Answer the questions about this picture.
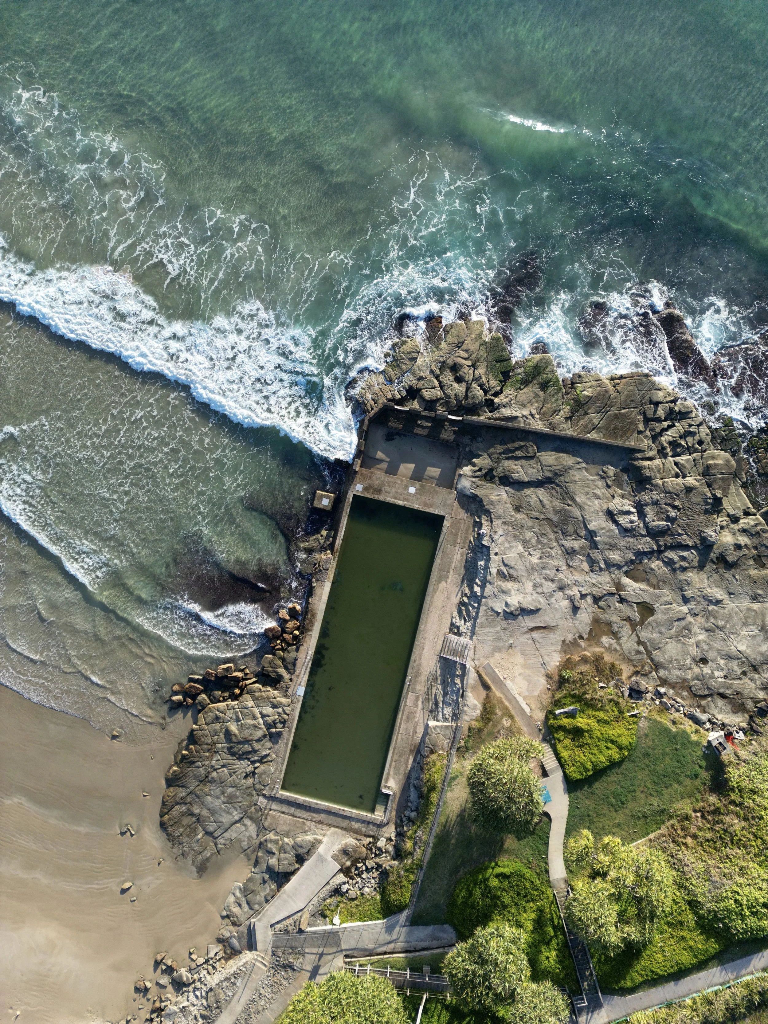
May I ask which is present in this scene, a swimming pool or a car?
swimming pool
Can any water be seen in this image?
Yes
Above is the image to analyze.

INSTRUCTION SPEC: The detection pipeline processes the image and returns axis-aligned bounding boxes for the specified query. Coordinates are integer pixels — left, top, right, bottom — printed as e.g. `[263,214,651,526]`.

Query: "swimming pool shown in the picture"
[258,468,472,844]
